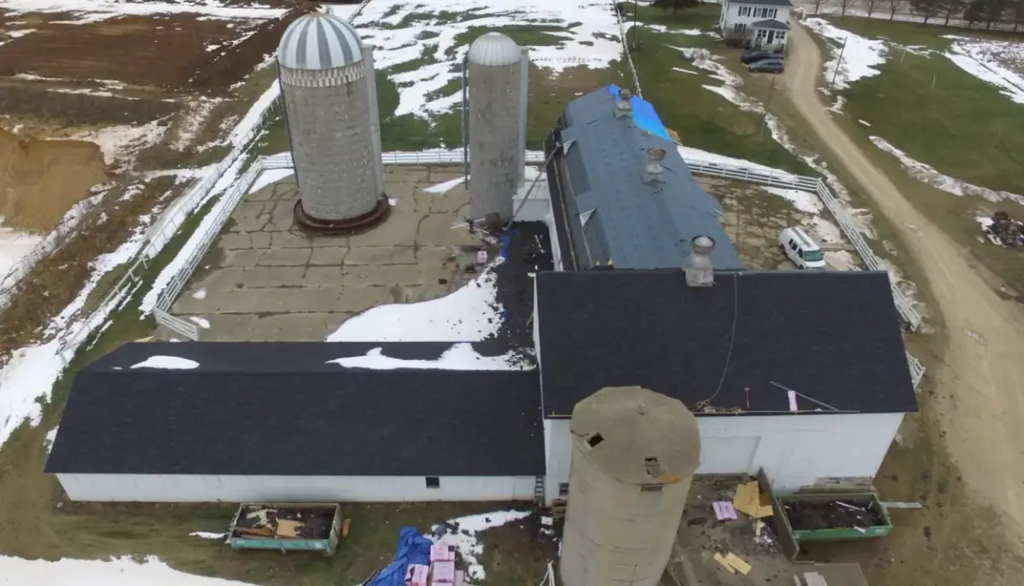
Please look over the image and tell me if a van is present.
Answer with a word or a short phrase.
Yes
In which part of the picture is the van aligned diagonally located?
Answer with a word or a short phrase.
right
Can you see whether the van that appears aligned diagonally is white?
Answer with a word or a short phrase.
Yes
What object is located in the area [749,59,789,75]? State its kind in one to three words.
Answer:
car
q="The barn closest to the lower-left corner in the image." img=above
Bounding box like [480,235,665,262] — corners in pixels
[45,343,544,501]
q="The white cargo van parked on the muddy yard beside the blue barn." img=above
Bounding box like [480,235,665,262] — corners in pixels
[776,227,831,269]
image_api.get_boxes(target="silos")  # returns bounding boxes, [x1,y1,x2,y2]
[273,10,389,224]
[463,32,528,224]
[566,388,704,586]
